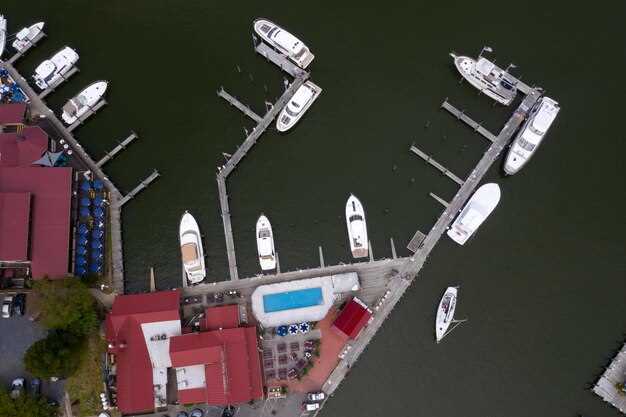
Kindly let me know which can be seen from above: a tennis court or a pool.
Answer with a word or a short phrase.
pool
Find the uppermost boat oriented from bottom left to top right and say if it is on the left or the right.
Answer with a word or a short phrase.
left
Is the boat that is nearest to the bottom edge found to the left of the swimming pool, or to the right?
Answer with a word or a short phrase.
right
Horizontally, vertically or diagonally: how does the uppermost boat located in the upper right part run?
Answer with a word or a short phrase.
diagonally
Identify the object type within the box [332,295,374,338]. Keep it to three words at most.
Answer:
building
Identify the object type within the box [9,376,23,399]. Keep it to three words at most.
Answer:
car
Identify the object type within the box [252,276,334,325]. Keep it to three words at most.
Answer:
swimming pool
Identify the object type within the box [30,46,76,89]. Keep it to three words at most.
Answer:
boat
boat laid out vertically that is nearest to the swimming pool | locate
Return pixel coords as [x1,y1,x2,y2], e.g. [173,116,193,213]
[256,215,277,275]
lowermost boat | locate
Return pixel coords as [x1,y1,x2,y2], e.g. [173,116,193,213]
[436,287,464,342]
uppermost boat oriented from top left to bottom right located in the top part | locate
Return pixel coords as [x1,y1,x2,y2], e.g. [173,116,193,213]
[254,21,315,68]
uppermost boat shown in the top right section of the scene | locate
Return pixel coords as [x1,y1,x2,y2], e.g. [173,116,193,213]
[450,54,518,105]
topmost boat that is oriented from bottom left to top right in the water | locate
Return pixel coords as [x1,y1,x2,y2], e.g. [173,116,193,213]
[5,22,50,52]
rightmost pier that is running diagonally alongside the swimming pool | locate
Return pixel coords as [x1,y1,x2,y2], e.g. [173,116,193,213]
[321,64,545,397]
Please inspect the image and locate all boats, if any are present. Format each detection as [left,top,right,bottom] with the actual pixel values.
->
[254,21,315,68]
[180,209,207,285]
[256,215,277,275]
[5,22,50,52]
[279,83,322,131]
[30,46,76,89]
[0,13,7,59]
[59,83,106,128]
[504,94,564,176]
[436,287,464,342]
[345,194,369,259]
[450,54,518,105]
